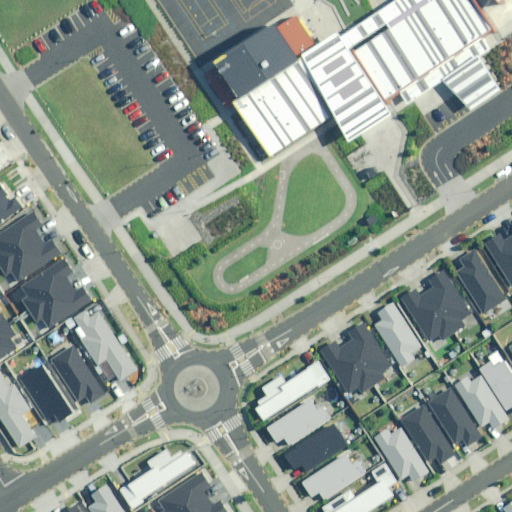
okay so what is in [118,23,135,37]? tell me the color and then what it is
white vehicle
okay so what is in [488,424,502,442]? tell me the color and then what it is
white car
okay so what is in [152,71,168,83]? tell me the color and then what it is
red vehicle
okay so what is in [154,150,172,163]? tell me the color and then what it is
red vehicle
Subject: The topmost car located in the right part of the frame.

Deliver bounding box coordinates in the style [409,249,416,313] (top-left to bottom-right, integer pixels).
[432,106,444,124]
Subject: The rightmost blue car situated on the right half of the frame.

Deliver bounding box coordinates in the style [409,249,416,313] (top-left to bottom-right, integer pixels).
[480,212,498,226]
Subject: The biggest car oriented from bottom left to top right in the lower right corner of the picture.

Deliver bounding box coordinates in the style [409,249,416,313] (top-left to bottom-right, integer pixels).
[427,485,444,498]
